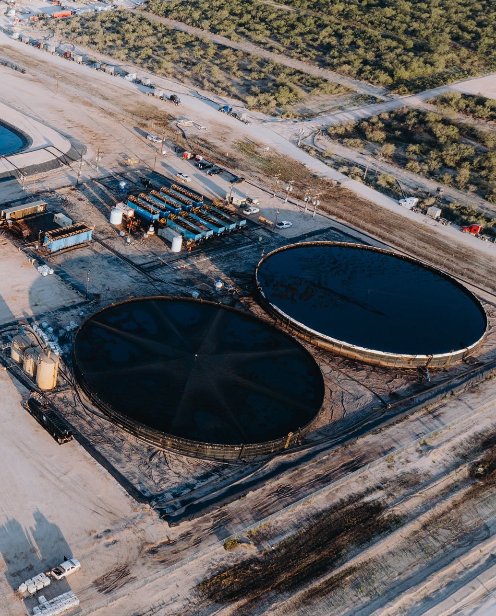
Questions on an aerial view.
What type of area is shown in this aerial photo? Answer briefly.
industrial area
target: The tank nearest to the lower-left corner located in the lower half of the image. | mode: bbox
[25,392,69,442]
